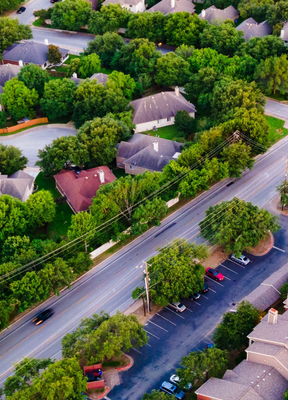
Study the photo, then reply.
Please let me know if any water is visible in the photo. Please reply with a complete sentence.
No, no water is visible.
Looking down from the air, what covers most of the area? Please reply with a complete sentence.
Most of the picture is covered by trees.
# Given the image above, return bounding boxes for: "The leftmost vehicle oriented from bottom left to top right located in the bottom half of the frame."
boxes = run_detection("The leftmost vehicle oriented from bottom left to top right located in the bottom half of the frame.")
[34,308,55,326]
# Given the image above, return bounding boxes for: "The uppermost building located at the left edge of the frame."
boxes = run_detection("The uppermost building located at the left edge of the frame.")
[1,37,70,72]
